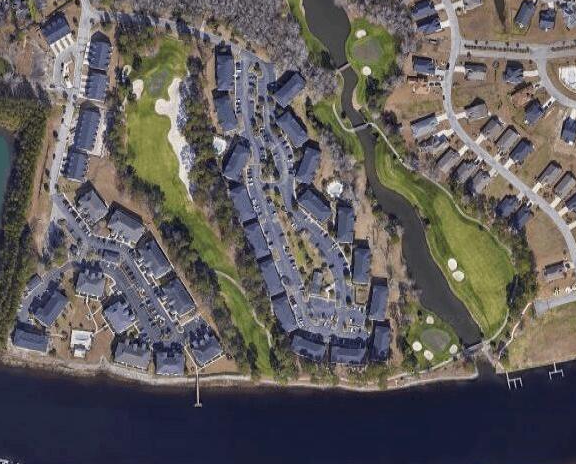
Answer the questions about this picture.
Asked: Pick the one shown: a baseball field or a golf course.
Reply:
golf course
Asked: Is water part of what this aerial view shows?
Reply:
Yes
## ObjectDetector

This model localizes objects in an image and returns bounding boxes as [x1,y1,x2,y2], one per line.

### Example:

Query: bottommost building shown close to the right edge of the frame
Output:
[541,261,565,280]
